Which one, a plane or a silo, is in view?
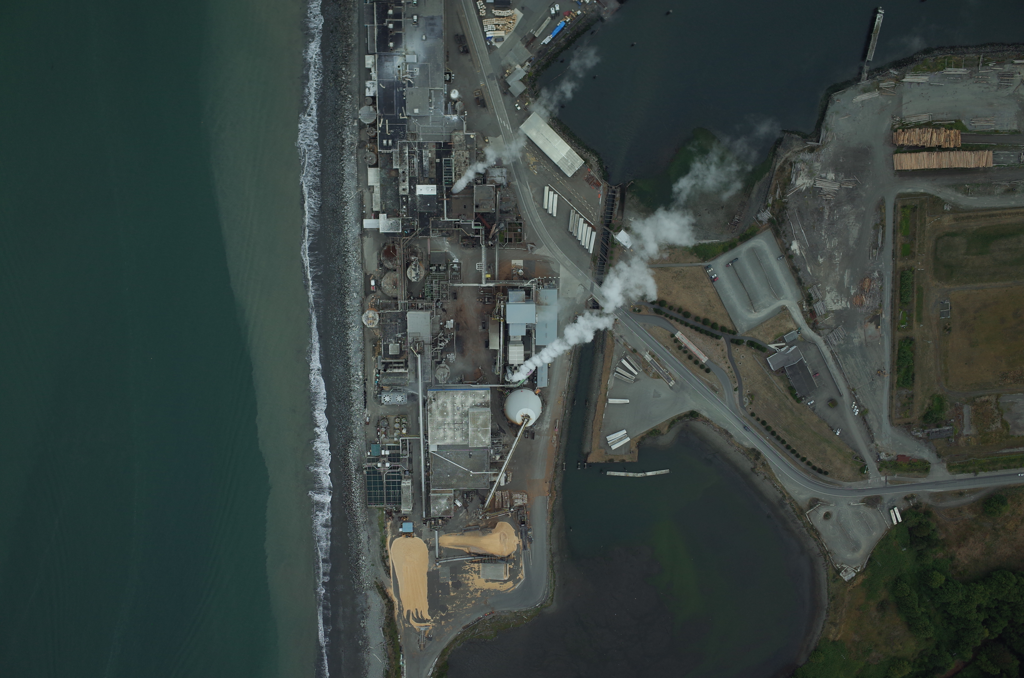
silo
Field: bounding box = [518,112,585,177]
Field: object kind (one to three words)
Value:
building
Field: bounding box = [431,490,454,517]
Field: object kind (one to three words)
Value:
building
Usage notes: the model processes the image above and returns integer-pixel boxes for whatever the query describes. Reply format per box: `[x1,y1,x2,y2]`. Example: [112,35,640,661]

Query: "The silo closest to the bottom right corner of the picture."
[501,387,544,429]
